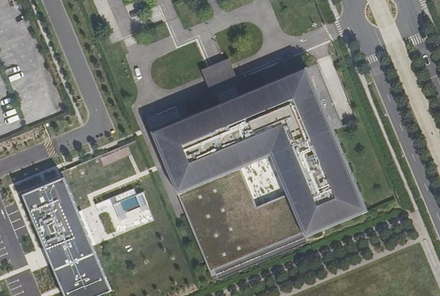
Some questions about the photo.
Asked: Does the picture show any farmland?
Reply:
No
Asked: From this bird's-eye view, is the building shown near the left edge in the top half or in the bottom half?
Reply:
bottom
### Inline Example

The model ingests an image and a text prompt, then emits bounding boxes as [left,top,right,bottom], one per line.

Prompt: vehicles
[133,64,142,79]
[4,108,18,118]
[8,0,16,8]
[422,53,430,66]
[6,64,20,76]
[14,14,26,22]
[0,97,12,104]
[2,102,14,111]
[8,72,23,82]
[6,114,20,124]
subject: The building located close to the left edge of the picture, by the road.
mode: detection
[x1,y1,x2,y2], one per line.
[21,164,111,296]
